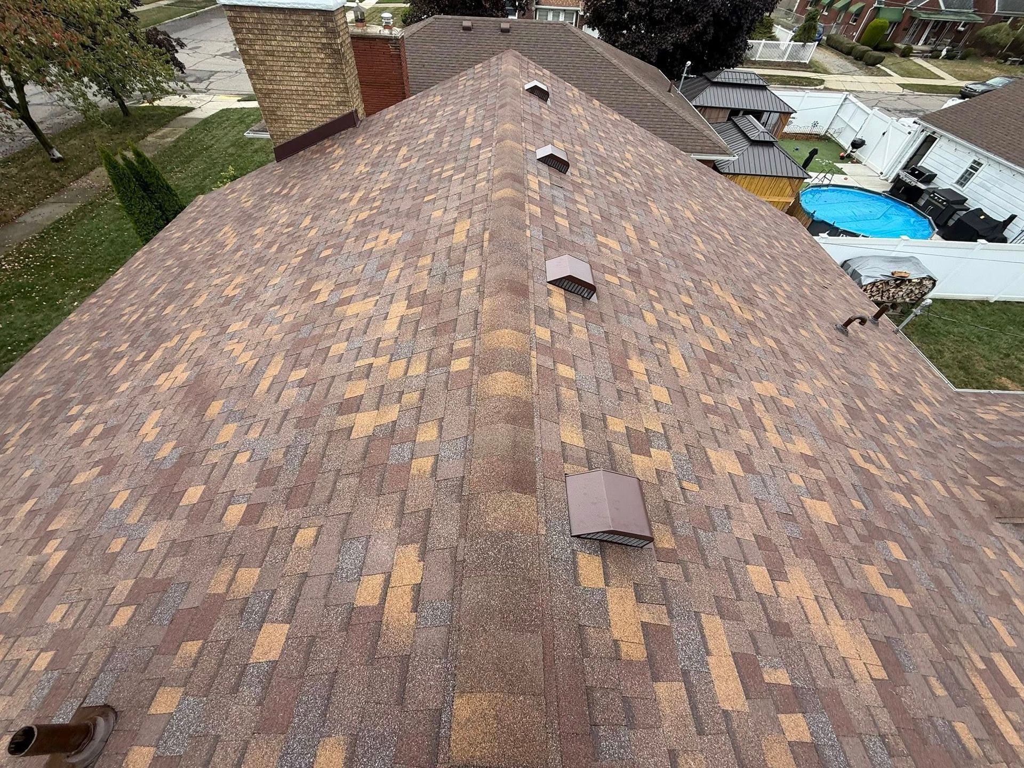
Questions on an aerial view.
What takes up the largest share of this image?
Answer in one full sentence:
The bulk of the photo consists of buildings.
